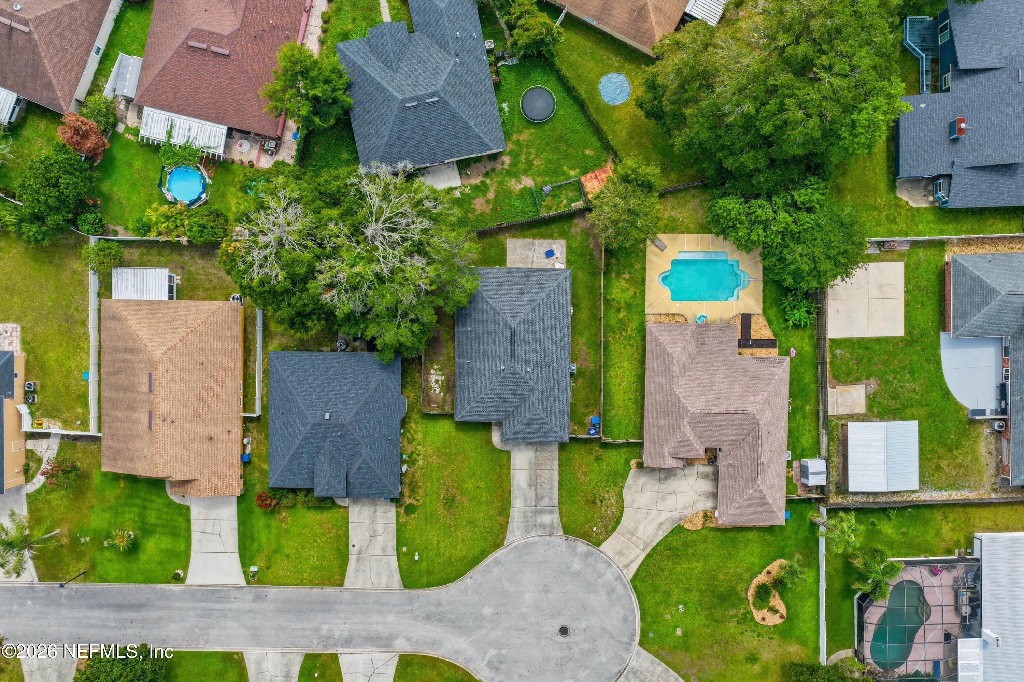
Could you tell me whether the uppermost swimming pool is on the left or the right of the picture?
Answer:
left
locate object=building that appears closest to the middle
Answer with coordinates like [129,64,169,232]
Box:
[454,268,571,444]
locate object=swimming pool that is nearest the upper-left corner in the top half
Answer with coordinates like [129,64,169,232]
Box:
[159,157,211,207]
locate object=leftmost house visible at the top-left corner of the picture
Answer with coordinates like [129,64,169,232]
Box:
[0,0,126,115]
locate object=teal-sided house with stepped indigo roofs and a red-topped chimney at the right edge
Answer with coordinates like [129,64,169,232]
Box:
[891,0,1024,208]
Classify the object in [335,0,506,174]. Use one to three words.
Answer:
house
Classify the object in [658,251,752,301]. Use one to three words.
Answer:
swimming pool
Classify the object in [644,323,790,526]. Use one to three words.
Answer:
house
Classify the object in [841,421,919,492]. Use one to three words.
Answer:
shed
